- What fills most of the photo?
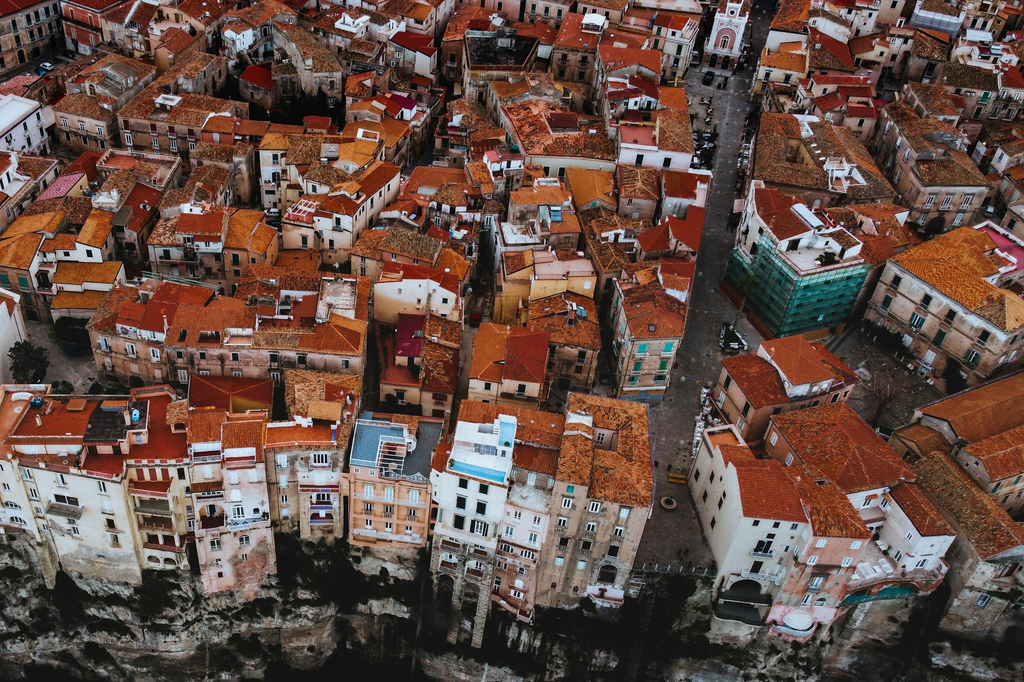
buildings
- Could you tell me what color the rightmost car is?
black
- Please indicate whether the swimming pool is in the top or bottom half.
bottom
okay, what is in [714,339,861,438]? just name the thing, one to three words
house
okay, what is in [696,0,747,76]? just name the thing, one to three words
building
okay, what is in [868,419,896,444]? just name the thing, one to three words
car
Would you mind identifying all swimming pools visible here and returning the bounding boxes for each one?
[452,461,506,482]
